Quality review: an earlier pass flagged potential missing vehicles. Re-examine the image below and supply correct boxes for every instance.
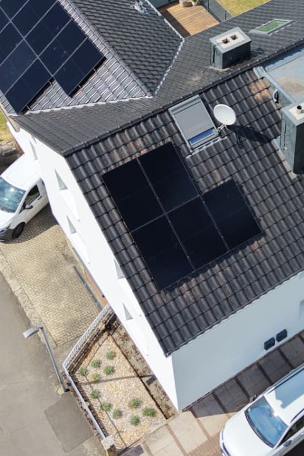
[0,128,45,237]
[228,372,304,456]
